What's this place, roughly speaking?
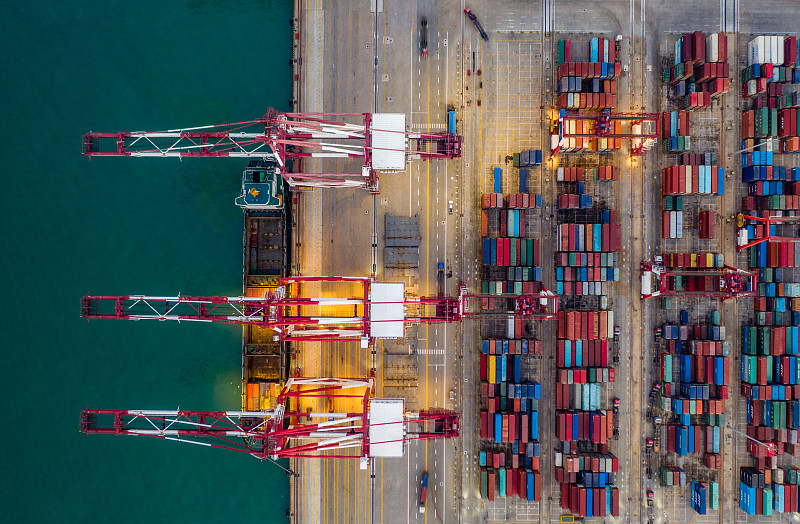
port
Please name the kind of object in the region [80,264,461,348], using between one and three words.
container crane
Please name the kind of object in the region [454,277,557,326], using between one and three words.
container crane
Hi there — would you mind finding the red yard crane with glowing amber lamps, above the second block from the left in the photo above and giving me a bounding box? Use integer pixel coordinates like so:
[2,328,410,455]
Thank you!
[550,116,671,165]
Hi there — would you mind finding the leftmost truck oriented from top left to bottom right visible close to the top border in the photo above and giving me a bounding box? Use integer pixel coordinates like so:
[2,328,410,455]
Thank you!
[465,7,491,40]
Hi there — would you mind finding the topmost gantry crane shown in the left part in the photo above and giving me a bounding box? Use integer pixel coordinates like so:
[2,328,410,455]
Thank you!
[83,102,462,204]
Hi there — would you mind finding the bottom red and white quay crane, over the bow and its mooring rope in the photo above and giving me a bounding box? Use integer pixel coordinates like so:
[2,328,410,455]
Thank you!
[80,356,460,462]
